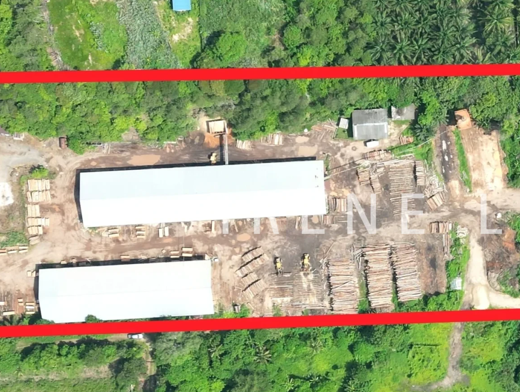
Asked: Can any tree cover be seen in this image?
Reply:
Yes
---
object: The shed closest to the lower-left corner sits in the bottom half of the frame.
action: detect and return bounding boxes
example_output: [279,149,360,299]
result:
[37,259,218,325]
